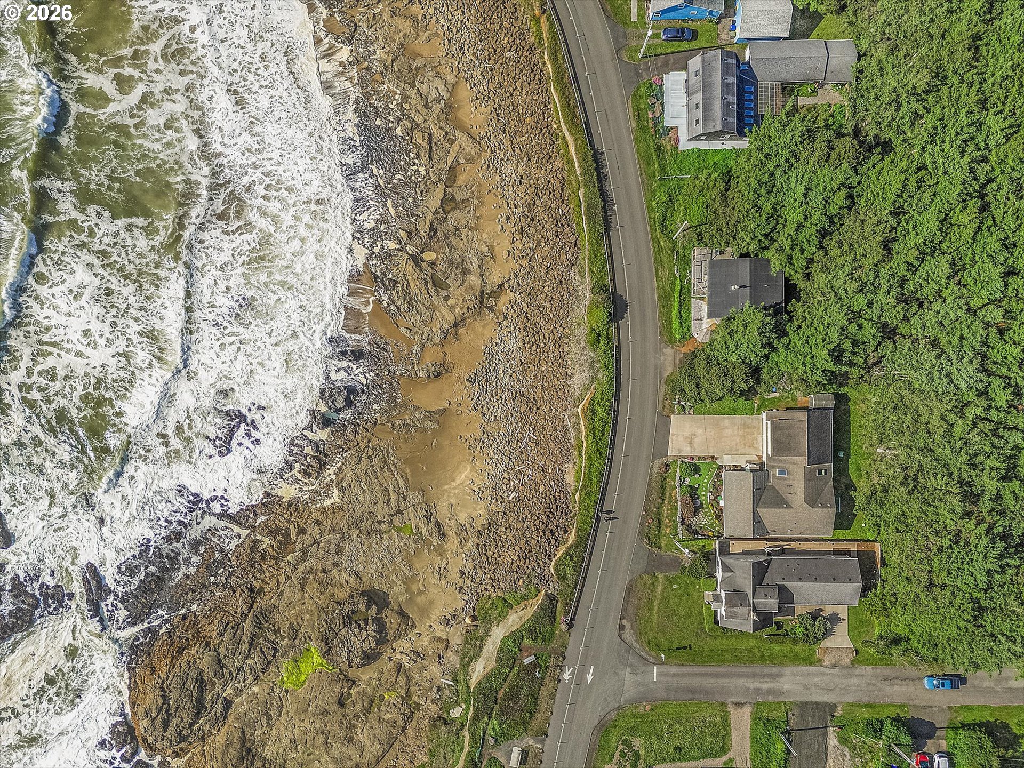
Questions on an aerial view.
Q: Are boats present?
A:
No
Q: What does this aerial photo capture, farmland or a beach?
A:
beach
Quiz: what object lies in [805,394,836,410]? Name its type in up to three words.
greenhouse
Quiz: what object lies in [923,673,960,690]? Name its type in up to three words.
vehicle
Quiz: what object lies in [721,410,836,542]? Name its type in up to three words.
house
